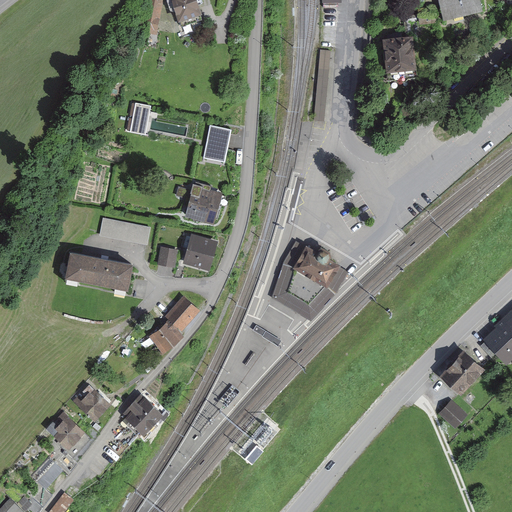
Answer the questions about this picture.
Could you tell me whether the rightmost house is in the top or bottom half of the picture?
bottom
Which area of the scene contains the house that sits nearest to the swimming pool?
top left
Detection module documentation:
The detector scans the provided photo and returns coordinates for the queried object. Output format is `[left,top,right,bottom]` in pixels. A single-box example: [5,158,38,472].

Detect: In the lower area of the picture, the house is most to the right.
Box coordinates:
[482,313,512,365]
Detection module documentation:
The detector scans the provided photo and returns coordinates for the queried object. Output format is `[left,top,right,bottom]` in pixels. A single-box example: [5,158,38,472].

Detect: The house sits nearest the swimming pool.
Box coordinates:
[125,102,151,135]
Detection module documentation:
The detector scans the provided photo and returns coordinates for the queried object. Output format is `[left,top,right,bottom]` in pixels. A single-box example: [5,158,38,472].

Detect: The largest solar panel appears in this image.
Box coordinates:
[205,126,230,160]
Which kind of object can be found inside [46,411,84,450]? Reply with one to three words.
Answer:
house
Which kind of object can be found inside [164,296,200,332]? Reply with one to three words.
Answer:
house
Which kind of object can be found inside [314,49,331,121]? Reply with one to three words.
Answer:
shed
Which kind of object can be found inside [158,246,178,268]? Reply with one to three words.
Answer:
building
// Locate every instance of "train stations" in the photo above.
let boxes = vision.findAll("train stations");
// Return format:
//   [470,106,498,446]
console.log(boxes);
[273,241,348,320]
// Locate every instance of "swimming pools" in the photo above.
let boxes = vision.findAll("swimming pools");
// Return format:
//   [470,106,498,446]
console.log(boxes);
[150,118,187,136]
